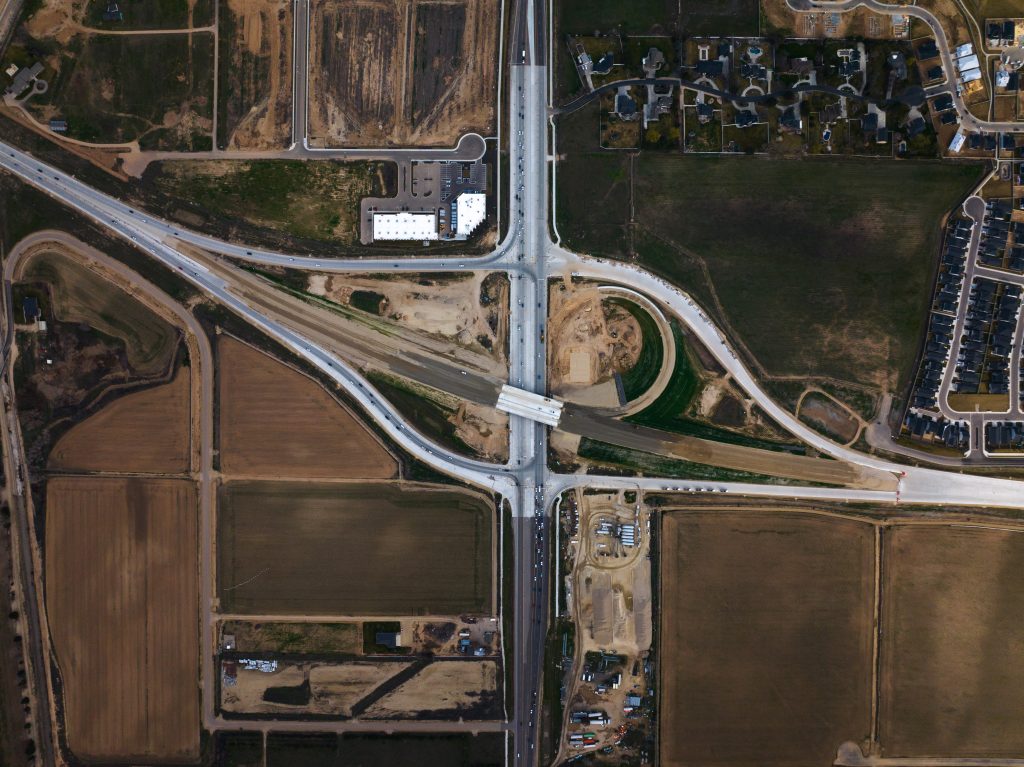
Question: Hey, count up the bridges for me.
one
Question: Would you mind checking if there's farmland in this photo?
Yes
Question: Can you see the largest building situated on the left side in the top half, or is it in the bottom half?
top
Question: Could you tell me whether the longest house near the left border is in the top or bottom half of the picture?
top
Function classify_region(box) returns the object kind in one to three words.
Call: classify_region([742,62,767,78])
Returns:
house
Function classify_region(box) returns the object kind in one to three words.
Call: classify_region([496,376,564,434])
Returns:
bridge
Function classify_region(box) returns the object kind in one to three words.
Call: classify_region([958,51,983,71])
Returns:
house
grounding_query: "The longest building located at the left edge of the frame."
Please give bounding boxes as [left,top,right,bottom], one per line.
[8,63,39,96]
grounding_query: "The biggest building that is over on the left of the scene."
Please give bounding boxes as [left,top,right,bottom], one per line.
[373,211,438,239]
